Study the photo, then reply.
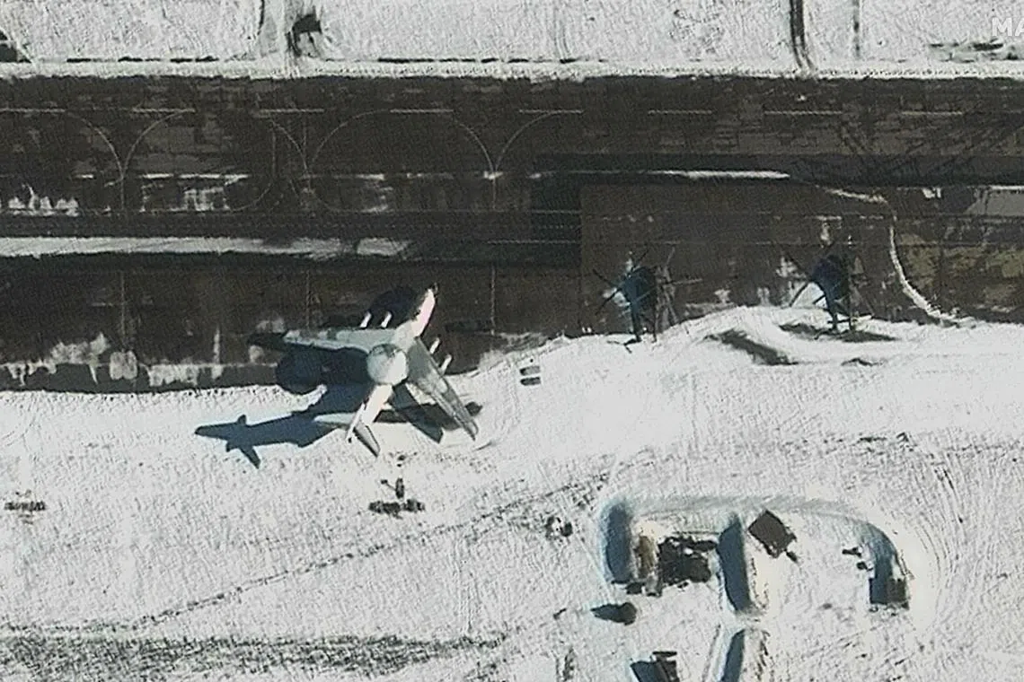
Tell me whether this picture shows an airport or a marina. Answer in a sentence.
The picture captures an airport.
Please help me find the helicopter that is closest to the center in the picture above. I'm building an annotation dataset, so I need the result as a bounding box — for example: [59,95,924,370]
[626,242,707,344]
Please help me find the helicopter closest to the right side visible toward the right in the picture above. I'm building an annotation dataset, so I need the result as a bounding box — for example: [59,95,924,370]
[815,230,895,332]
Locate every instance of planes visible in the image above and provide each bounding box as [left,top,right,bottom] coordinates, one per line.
[281,281,480,462]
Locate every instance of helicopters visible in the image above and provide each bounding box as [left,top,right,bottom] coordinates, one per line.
[815,230,895,332]
[626,242,707,344]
